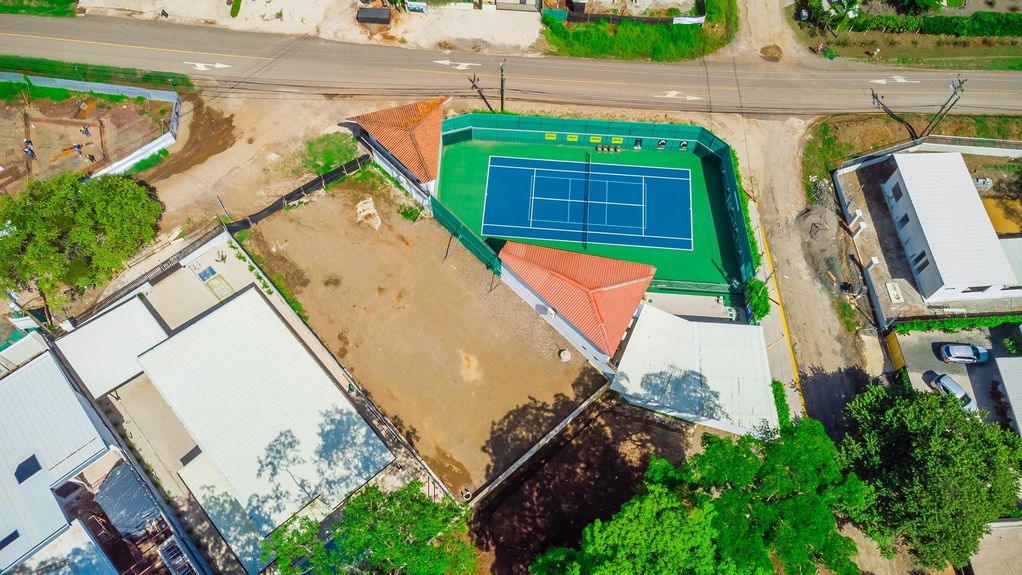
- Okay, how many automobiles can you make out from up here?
two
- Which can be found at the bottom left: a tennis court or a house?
house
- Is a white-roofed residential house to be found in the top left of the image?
No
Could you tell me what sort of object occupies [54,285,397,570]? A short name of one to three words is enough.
house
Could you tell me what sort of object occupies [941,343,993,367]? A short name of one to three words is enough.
car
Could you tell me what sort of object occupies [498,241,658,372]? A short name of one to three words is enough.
building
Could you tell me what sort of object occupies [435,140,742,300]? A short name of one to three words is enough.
tennis court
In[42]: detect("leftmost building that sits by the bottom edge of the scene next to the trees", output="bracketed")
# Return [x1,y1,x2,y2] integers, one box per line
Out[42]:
[0,350,125,575]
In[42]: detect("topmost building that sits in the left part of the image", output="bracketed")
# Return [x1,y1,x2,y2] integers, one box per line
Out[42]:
[346,97,449,182]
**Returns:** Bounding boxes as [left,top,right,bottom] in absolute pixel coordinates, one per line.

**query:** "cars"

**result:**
[932,372,976,406]
[941,343,993,367]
